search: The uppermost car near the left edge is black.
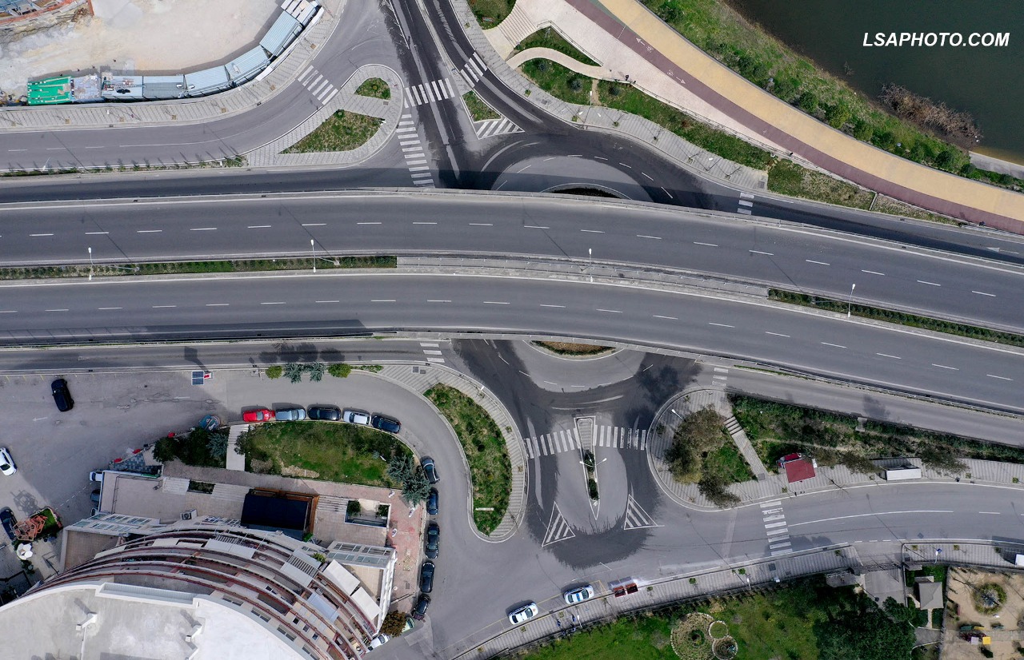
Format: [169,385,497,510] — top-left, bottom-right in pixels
[51,379,75,412]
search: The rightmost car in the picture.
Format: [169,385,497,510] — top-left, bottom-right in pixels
[564,583,595,604]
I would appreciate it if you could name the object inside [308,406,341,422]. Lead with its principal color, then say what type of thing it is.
black car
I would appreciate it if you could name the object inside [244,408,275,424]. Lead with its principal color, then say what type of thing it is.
red car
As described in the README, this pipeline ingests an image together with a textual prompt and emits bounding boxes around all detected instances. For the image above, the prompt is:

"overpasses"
[0,187,1024,416]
